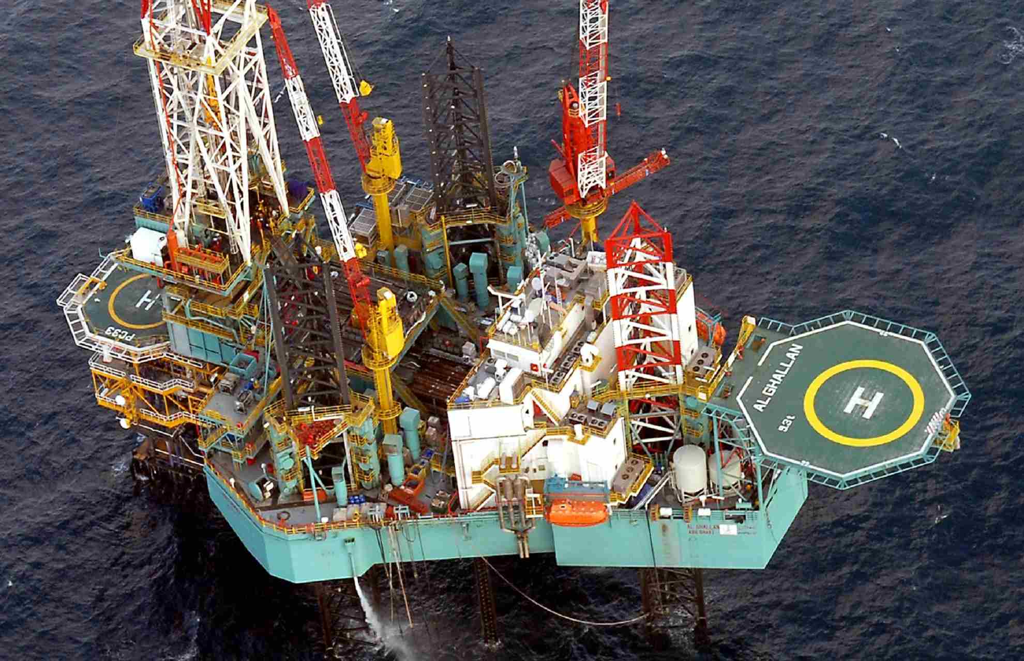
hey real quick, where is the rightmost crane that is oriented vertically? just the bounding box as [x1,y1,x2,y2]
[542,0,620,249]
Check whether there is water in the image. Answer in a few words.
Yes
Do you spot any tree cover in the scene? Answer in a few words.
No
